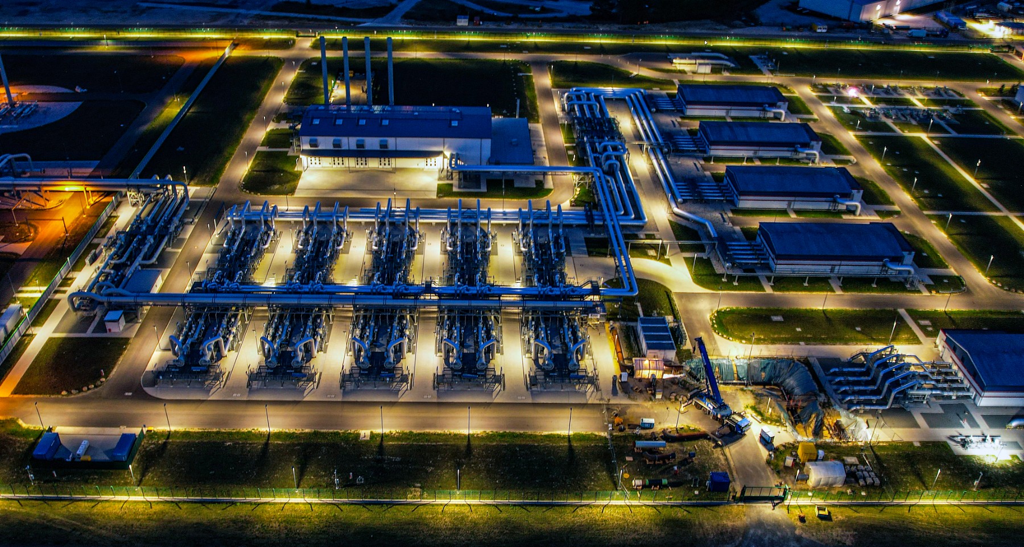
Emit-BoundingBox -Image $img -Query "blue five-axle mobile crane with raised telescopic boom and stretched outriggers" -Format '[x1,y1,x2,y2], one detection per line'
[685,336,757,431]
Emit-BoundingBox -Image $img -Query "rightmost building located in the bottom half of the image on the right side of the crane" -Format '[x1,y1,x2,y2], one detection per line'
[941,332,1024,406]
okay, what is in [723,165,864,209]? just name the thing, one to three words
building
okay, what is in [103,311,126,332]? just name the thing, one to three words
shed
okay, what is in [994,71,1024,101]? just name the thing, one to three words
building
